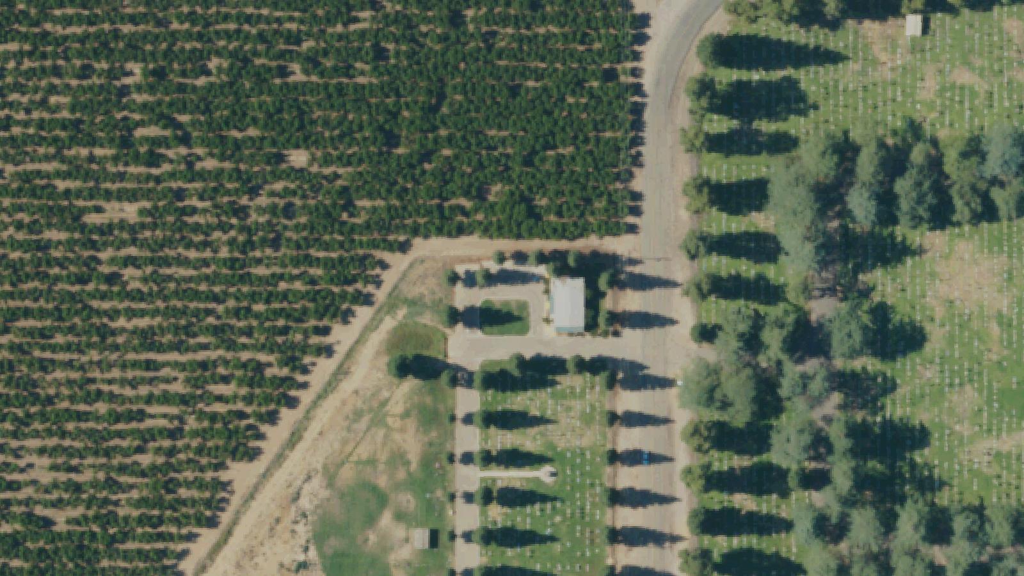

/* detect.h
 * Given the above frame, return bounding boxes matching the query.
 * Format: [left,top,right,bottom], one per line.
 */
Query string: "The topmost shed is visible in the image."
[906,14,922,35]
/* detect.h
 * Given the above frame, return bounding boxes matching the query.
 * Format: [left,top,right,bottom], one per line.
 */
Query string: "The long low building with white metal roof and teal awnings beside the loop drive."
[548,277,584,338]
